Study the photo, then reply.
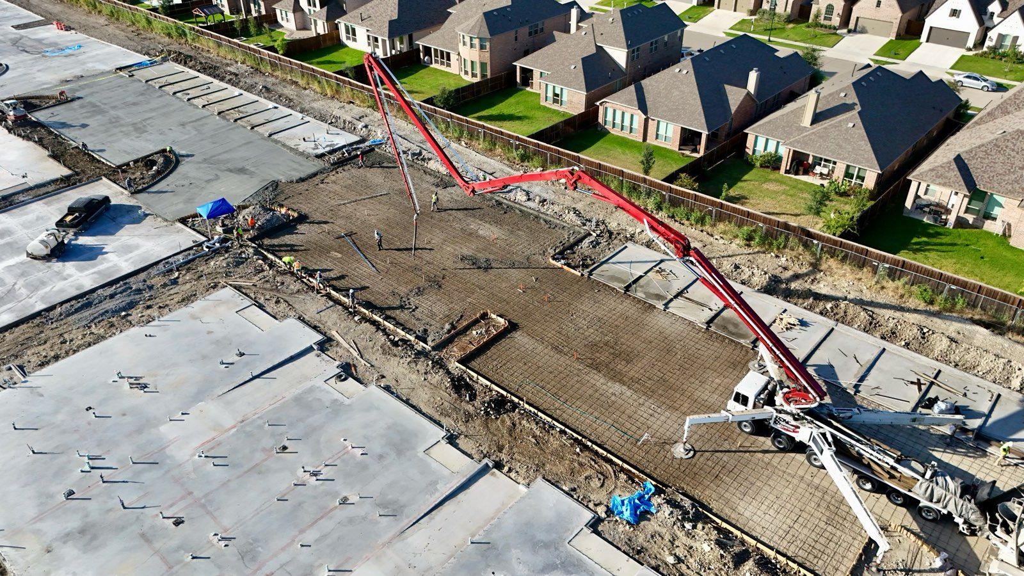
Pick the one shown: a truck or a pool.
truck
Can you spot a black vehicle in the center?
No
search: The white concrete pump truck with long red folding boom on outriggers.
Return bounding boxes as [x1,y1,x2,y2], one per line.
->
[361,56,1011,576]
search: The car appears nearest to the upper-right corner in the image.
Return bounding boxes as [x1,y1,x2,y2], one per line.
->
[953,70,1004,91]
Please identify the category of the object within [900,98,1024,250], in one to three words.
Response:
house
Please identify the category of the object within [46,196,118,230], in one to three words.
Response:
truck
